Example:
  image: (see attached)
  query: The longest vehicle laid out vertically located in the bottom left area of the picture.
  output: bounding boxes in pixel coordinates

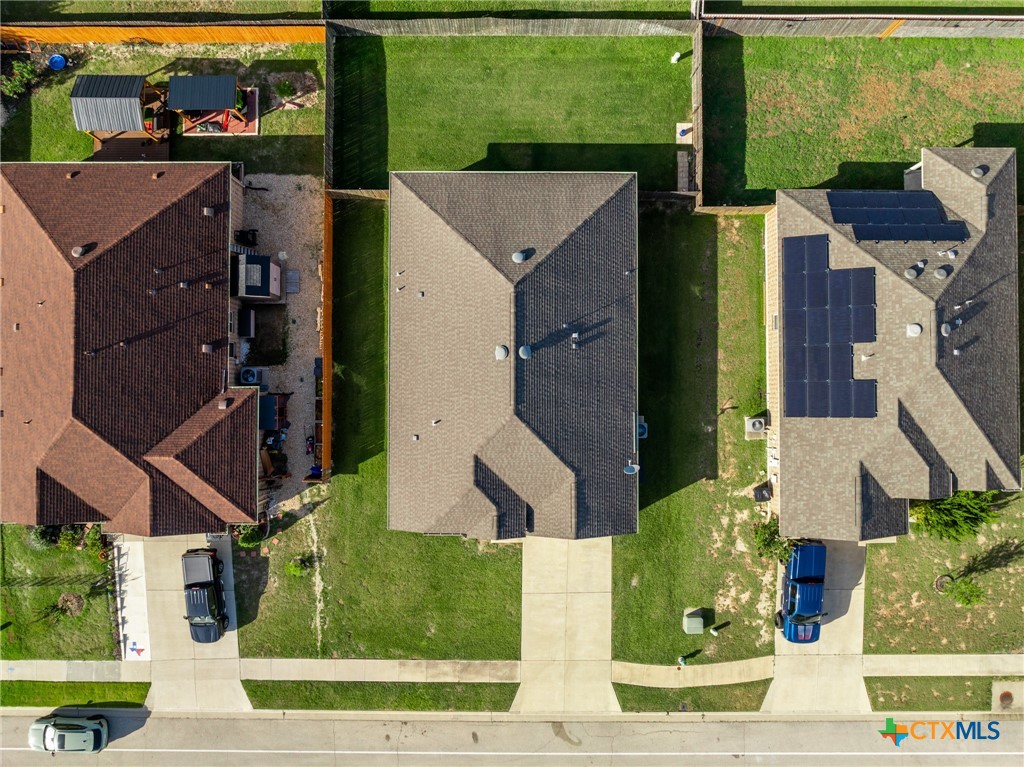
[181,545,228,643]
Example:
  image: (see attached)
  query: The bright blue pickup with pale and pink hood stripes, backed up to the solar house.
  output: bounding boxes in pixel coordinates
[776,536,829,644]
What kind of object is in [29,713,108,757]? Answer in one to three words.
car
